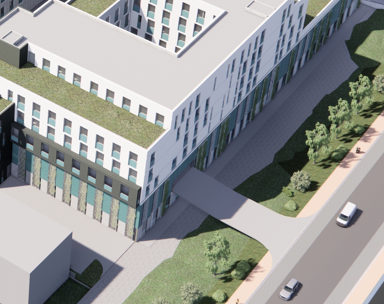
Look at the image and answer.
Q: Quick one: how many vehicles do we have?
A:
2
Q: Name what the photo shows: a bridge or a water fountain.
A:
bridge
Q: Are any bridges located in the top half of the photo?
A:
No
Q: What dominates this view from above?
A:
buildings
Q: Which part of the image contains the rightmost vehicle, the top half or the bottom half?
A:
bottom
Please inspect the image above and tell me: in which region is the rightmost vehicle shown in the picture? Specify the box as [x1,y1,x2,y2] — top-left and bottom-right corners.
[337,203,359,227]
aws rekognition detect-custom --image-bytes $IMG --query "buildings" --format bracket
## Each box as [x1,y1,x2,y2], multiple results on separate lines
[0,0,340,243]
[0,191,73,304]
